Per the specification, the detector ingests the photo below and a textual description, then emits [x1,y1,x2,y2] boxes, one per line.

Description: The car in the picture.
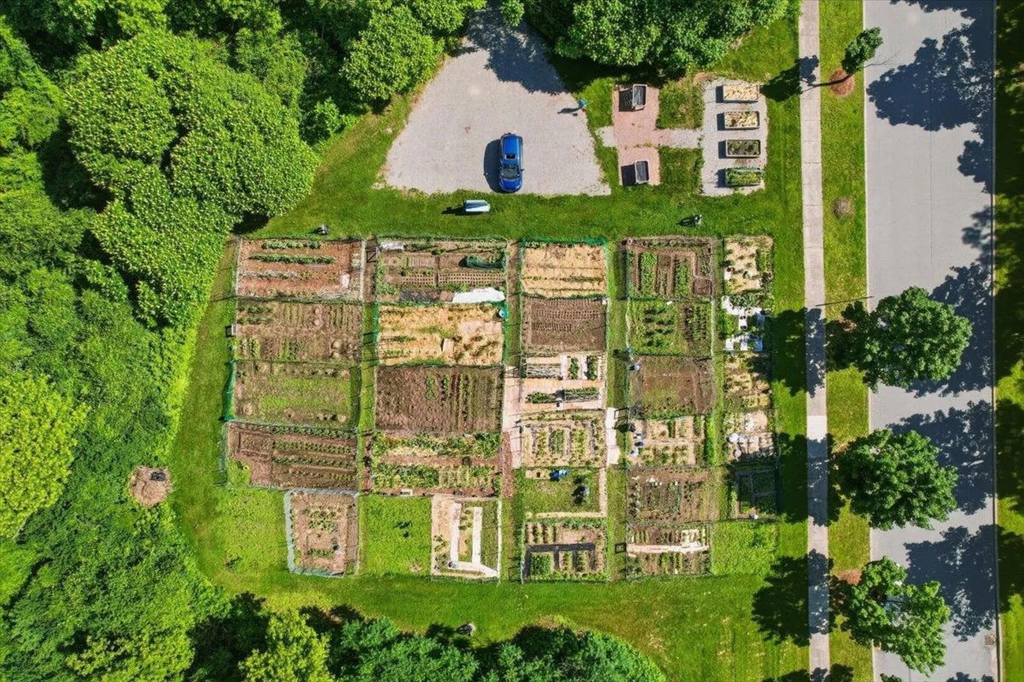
[497,131,526,192]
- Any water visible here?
No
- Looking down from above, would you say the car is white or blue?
blue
